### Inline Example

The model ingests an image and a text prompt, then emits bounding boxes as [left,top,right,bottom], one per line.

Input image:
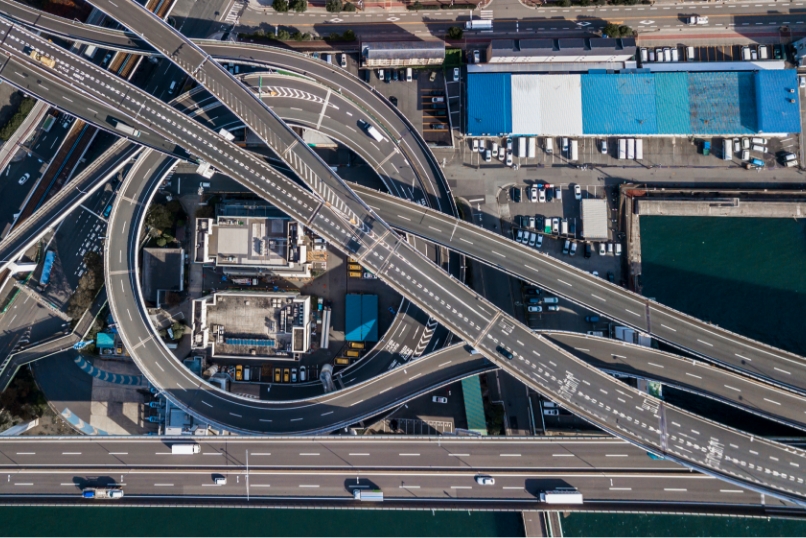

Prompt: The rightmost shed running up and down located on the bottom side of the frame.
[460,373,487,434]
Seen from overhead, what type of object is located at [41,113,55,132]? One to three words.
vehicle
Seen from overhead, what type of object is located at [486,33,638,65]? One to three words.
building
